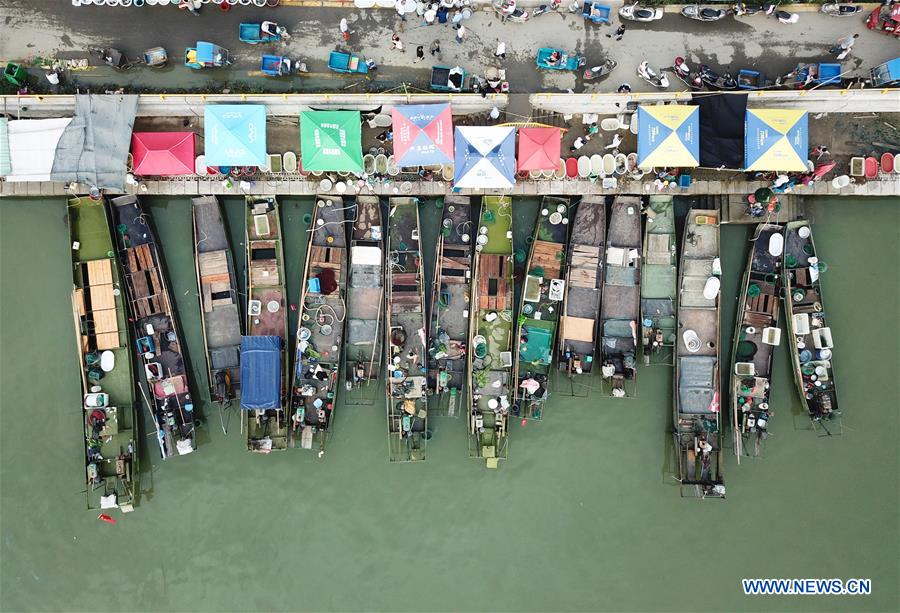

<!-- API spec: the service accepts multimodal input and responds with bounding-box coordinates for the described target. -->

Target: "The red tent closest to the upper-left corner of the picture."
[133,133,211,184]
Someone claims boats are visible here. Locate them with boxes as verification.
[109,196,200,461]
[640,196,677,366]
[509,197,570,420]
[559,196,606,397]
[345,197,386,405]
[728,223,785,458]
[67,197,140,508]
[599,196,642,397]
[468,197,514,468]
[240,196,289,450]
[386,197,428,462]
[290,196,348,451]
[672,208,726,498]
[192,196,245,434]
[427,197,471,417]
